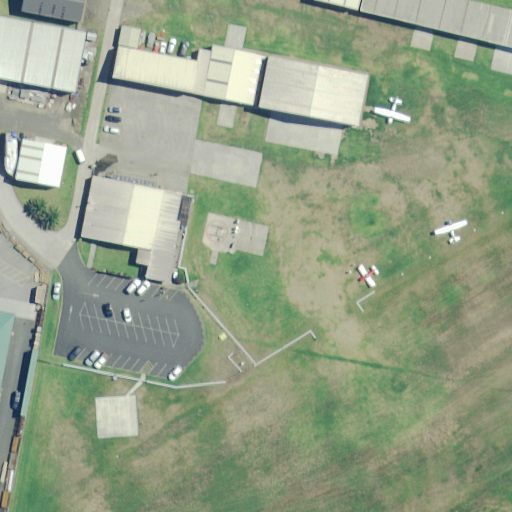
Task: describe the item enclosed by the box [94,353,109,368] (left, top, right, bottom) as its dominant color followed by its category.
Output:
white vehicle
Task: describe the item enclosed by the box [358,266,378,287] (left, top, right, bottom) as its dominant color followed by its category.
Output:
white airplane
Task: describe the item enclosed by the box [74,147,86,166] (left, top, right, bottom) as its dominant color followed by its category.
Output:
white vehicle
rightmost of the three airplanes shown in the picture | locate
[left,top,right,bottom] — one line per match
[434,219,468,242]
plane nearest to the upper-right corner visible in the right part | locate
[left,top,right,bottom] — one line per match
[374,98,410,125]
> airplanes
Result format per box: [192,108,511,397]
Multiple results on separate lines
[434,219,468,242]
[358,266,378,287]
[374,98,410,125]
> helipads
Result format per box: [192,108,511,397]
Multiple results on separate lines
[203,212,268,264]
